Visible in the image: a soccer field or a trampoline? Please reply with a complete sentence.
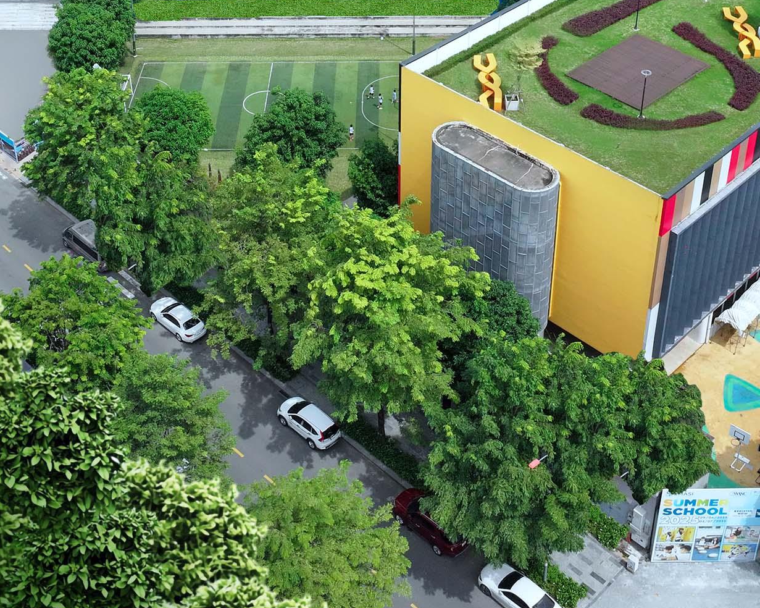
The image shows a soccer field.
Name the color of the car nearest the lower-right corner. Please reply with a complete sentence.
From above, the car nearest the lower-right corner appears white.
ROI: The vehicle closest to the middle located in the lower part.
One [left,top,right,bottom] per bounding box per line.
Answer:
[278,398,343,452]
